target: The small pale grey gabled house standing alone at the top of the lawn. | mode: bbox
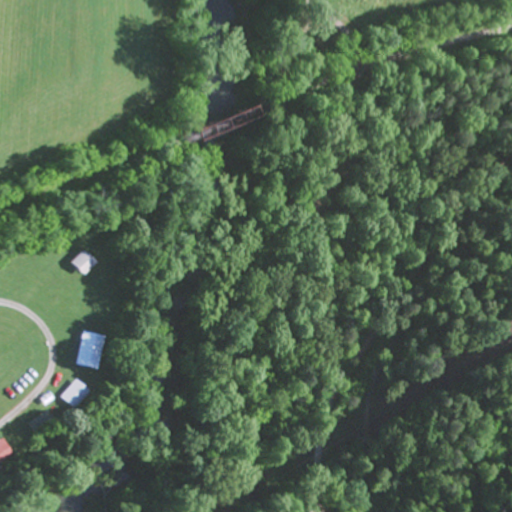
[71,250,96,276]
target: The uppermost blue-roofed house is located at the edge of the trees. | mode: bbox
[76,331,105,370]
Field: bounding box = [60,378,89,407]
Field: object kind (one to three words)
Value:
house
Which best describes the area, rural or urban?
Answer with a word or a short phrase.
rural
